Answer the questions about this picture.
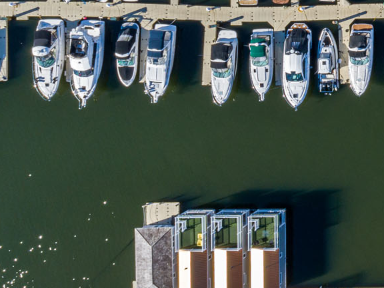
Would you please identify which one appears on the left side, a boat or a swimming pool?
boat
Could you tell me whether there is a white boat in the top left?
Yes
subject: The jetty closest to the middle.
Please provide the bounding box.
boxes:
[146,200,181,225]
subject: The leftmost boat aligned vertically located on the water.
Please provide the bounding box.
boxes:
[32,18,68,101]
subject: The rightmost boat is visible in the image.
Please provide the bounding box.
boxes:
[347,21,377,96]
